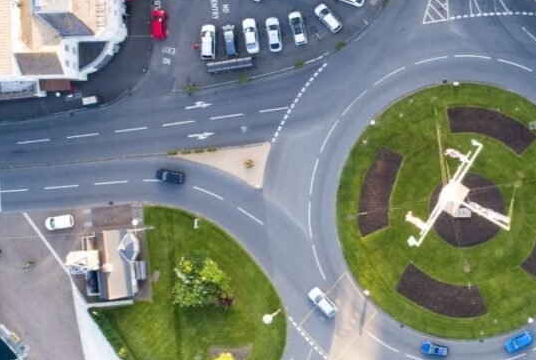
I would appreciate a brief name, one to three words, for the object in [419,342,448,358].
car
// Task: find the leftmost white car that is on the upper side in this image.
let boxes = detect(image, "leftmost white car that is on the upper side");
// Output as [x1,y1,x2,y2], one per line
[196,23,215,59]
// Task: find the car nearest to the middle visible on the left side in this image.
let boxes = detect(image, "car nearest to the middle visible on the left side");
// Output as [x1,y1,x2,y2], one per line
[152,167,186,185]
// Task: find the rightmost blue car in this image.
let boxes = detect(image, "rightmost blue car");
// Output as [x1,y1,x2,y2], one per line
[502,331,535,354]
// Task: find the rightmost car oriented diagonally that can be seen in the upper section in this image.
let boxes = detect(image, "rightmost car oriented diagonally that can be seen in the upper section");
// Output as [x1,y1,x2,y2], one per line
[311,2,343,34]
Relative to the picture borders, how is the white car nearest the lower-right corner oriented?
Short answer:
diagonally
